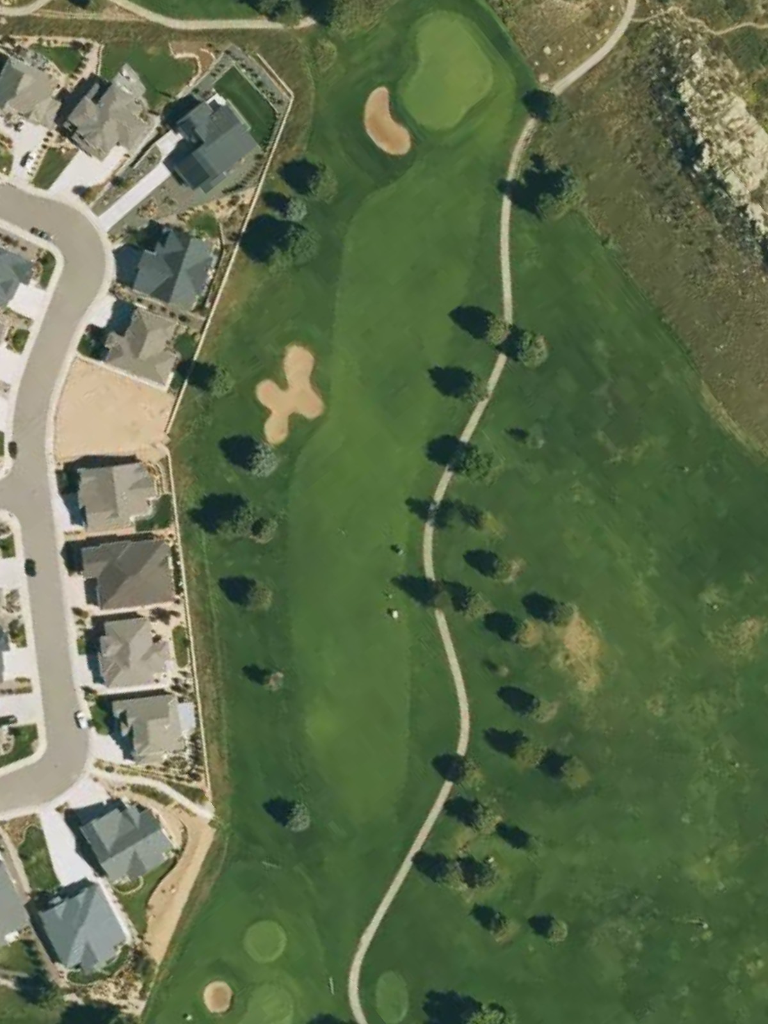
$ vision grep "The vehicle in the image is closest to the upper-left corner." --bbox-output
[24,153,37,171]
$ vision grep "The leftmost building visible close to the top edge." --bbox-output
[0,50,66,132]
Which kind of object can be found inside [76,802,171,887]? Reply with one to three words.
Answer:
house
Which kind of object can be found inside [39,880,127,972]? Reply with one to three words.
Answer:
house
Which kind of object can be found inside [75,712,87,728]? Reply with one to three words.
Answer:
vehicle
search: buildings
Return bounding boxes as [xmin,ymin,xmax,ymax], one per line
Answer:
[81,538,176,610]
[99,302,179,388]
[128,224,215,310]
[98,618,171,688]
[111,696,185,770]
[0,50,66,132]
[80,463,158,532]
[0,625,9,680]
[57,56,162,163]
[76,802,171,887]
[0,248,32,311]
[39,880,127,972]
[171,102,256,193]
[0,864,34,951]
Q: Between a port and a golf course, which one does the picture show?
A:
golf course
